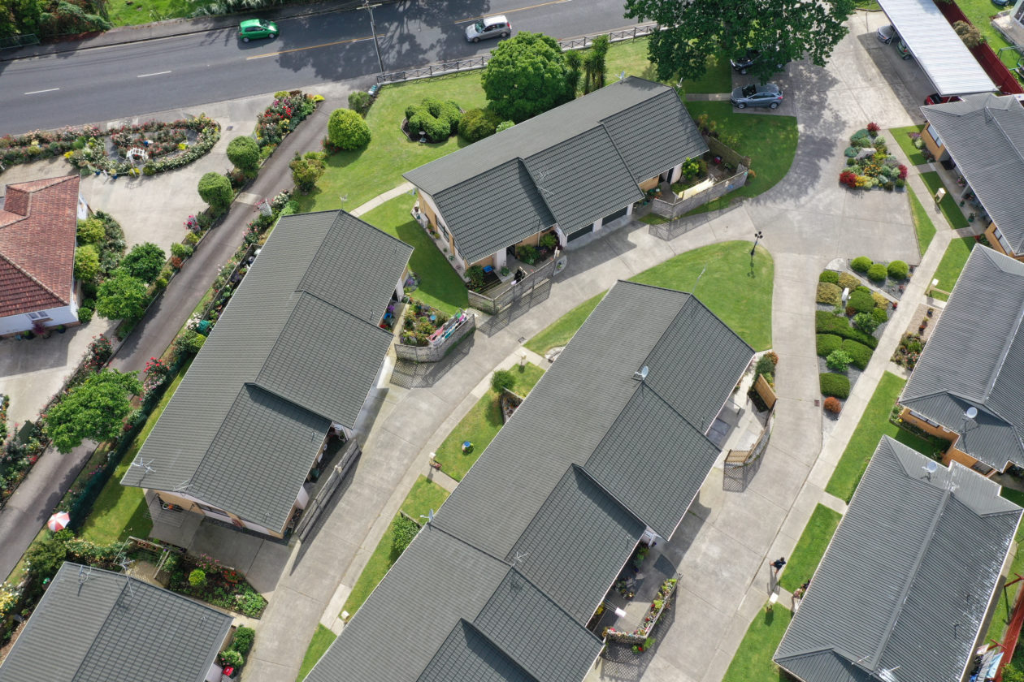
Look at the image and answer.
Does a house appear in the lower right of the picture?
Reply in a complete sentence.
Yes, a house is visible in the lower right of the picture.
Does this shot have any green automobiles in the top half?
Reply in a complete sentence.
Yes, a green automobile shows up in the top half.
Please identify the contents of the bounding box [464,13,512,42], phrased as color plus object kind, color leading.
gray car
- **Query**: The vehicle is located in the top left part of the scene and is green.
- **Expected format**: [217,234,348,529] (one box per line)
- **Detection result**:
[234,15,279,41]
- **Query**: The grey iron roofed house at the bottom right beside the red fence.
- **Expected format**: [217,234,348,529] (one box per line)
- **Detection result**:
[772,433,1022,682]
